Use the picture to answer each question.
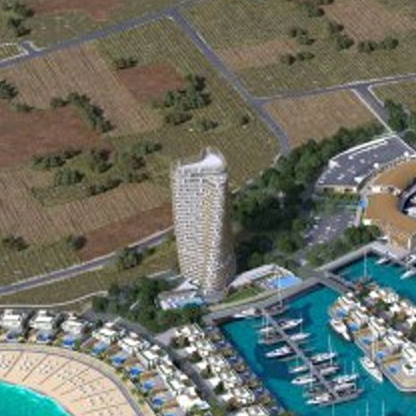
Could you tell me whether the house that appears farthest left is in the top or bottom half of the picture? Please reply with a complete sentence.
The house that appears farthest left is in the bottom half of the image.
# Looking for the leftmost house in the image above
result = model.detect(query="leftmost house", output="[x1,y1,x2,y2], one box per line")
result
[1,308,26,341]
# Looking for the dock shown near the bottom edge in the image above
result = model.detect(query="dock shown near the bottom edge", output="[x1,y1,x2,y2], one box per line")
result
[256,311,367,409]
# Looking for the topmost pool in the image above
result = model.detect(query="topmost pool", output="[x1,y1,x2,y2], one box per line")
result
[275,275,304,290]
